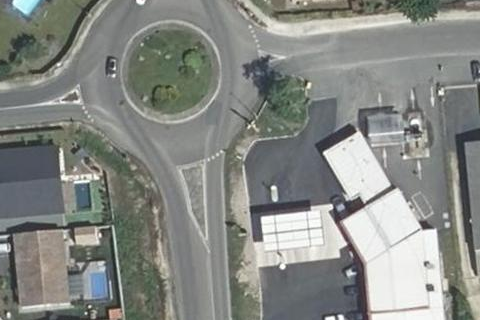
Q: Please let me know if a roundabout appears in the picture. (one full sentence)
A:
Yes, a roundabout can be made out from above.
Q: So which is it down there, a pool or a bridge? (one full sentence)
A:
It is a pool that can be seen here.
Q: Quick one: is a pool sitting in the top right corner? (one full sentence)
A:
No, looking in the top right corner, there is no pool.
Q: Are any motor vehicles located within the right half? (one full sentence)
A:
Yes, I can see a motor vehicle within the right half.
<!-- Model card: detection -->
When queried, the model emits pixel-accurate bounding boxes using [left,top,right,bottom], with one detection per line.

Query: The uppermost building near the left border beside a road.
[0,144,65,218]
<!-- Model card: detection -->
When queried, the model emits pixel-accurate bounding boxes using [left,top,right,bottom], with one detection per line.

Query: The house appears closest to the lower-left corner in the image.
[12,229,73,312]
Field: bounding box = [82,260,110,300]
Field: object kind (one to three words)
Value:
swimming pool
